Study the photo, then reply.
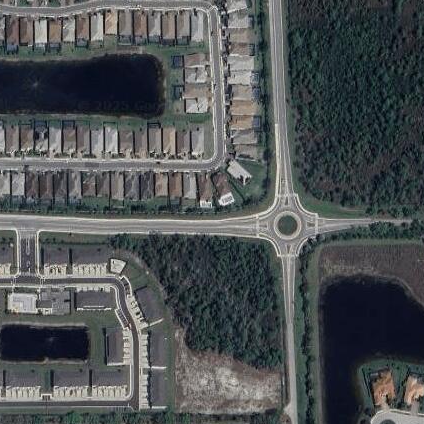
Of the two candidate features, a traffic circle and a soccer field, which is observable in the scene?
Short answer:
traffic circle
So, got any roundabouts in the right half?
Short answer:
Yes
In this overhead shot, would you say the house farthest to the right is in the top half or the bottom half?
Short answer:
bottom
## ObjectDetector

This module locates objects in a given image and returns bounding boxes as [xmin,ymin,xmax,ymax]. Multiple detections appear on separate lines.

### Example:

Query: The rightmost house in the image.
[404,371,424,405]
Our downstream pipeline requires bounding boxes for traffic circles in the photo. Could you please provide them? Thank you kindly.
[232,177,337,277]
